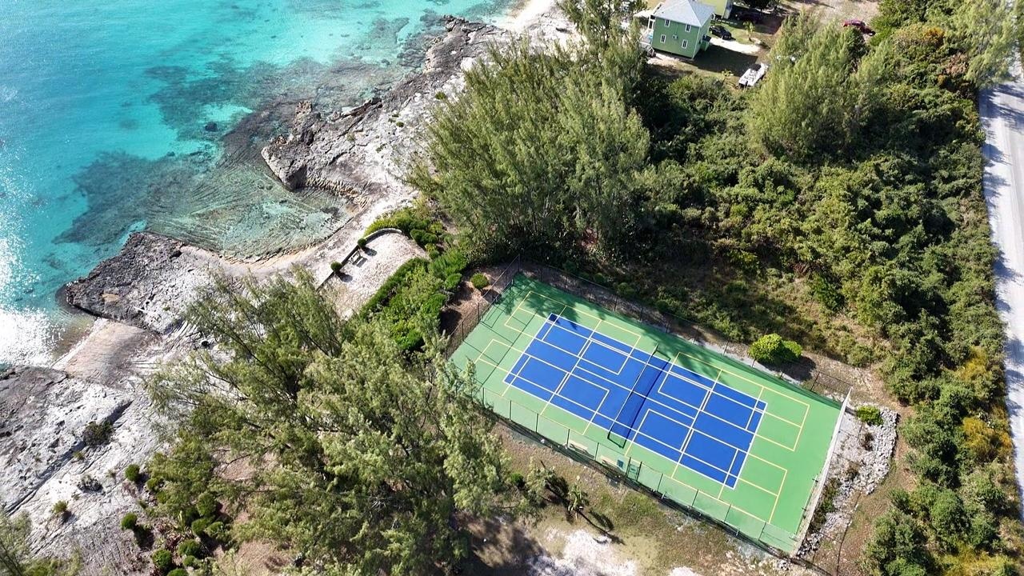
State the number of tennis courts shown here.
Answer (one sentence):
Altogether the scene contains 1 tennis court.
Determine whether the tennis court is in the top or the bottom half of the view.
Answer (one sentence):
Seen from above, the tennis court lies in the bottom half of the view.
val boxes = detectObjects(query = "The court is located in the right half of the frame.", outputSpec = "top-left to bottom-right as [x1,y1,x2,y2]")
[430,273,841,559]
